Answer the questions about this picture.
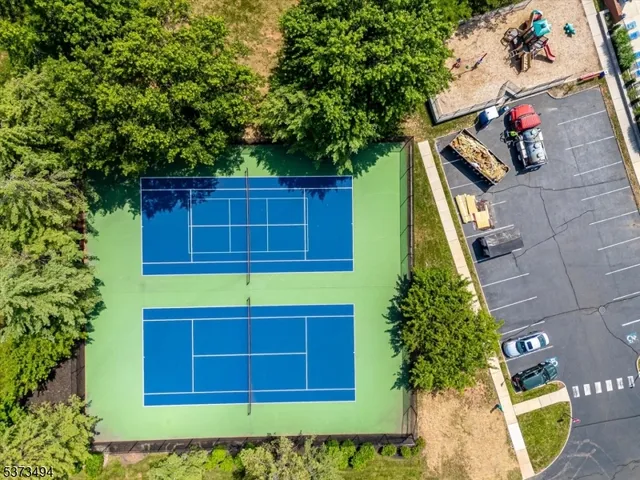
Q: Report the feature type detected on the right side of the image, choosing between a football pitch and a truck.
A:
truck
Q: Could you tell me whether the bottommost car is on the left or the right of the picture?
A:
right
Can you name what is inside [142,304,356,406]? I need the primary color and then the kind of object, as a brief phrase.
blue tennis court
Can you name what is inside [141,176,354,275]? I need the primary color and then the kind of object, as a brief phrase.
blue tennis court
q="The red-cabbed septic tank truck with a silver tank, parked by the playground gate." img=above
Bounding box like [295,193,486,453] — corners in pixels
[510,104,549,170]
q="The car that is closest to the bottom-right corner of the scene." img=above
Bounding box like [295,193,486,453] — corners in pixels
[511,362,557,391]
